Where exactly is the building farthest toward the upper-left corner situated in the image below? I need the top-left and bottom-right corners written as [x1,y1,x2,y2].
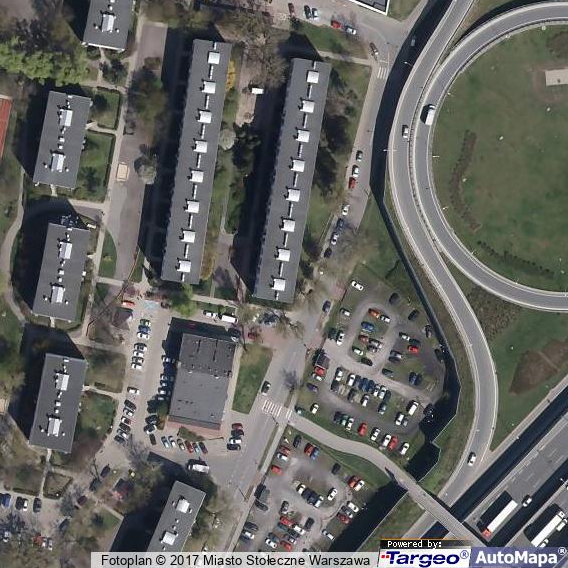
[84,0,136,54]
